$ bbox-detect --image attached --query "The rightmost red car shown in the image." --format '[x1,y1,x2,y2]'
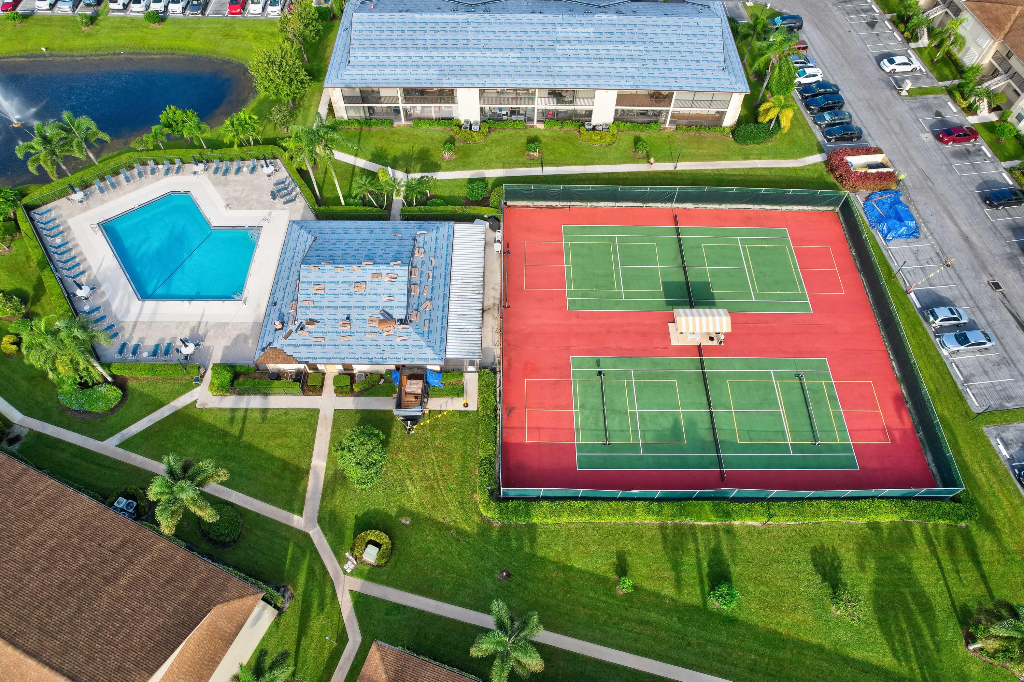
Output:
[938,125,982,145]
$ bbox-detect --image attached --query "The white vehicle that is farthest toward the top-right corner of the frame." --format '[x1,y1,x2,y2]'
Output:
[882,55,923,73]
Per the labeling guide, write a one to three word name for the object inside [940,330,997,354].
car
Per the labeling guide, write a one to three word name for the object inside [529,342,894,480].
tennis court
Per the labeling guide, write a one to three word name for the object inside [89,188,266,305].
swimming pool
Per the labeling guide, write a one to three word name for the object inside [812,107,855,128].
car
